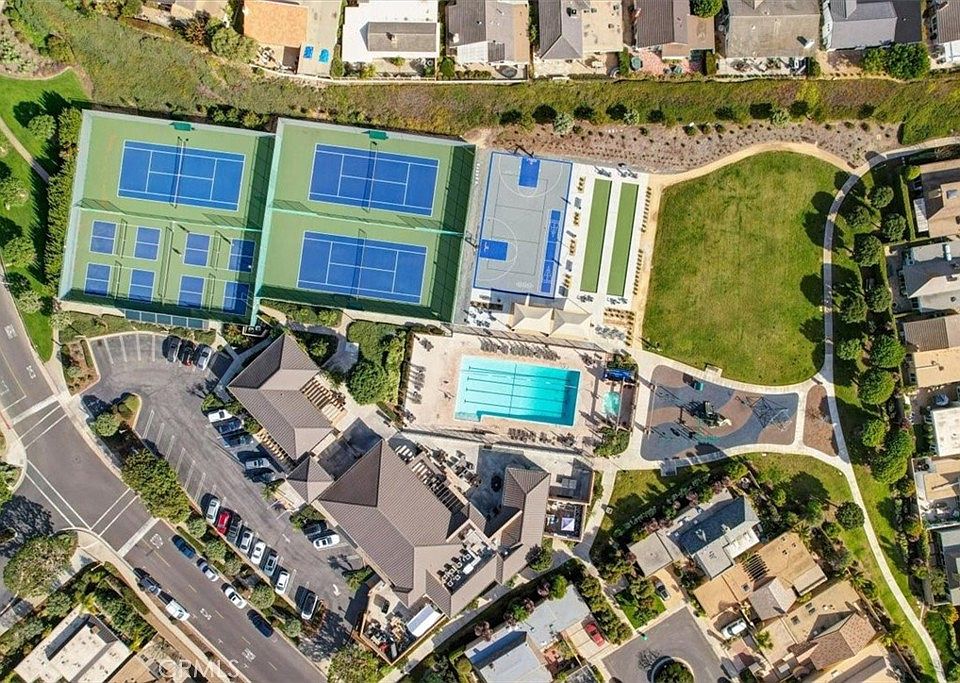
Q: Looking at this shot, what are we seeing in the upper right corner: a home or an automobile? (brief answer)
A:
home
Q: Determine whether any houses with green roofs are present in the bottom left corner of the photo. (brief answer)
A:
No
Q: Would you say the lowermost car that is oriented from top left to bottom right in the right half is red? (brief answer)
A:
Yes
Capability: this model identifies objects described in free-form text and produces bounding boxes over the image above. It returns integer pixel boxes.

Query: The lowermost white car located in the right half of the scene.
[719,616,746,637]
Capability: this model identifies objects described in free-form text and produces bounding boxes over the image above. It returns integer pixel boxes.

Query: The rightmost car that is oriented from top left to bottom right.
[652,575,672,601]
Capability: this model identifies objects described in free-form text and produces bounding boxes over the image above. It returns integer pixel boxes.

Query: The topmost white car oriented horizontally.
[207,409,233,423]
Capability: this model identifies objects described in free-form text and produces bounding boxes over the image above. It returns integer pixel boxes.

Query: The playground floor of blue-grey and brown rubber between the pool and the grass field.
[641,365,800,461]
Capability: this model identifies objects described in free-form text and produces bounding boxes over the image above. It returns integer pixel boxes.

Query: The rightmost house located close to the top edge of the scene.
[931,6,960,63]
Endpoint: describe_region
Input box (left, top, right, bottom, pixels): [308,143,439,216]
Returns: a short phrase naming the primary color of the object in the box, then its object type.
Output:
blue tennis court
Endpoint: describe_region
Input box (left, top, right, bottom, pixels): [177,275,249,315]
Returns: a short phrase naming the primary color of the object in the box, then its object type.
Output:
blue sports court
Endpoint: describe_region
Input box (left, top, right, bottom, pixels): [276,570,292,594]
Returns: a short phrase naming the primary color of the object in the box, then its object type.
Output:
white car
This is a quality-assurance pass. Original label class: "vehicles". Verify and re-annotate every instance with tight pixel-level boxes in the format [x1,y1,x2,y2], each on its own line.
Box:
[314,533,340,549]
[240,527,256,555]
[159,588,190,616]
[300,523,328,540]
[216,509,232,535]
[652,575,672,601]
[226,434,253,446]
[252,540,268,564]
[301,589,319,617]
[207,409,233,423]
[221,583,246,606]
[276,570,292,594]
[227,519,244,545]
[719,616,746,637]
[263,550,280,577]
[196,345,214,370]
[584,620,605,646]
[133,566,164,593]
[166,339,183,365]
[181,341,196,367]
[205,496,223,524]
[246,457,272,469]
[248,610,274,634]
[215,420,243,433]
